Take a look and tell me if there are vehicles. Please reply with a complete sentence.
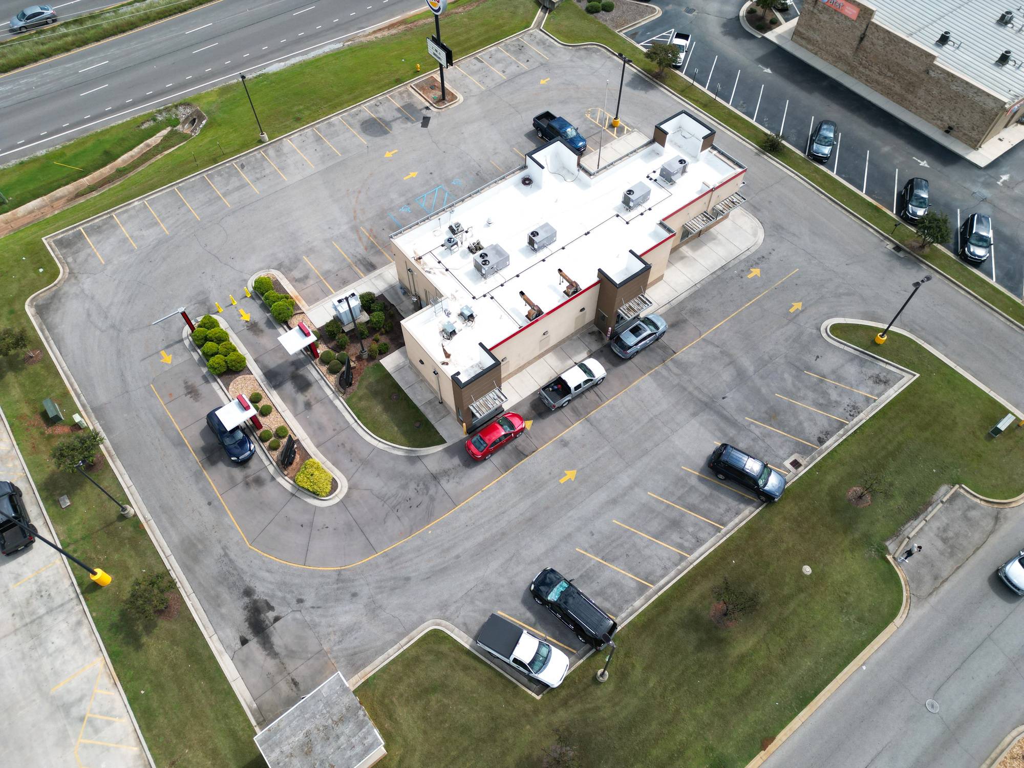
Yes, you can see a vehicle in this photo.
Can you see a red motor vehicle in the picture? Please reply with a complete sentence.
Yes, the picture does show a red motor vehicle.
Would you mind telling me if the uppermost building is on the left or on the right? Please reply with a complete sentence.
The uppermost building is on the right side of the image.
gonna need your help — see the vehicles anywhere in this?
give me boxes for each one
[530,110,584,151]
[609,313,670,361]
[899,174,932,220]
[461,410,528,464]
[810,117,839,159]
[204,399,251,460]
[710,445,787,505]
[8,6,59,31]
[667,31,691,66]
[997,535,1024,592]
[529,568,624,658]
[963,211,999,261]
[470,610,572,694]
[538,356,610,413]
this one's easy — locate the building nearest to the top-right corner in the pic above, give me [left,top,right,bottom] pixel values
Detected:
[792,0,1024,148]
